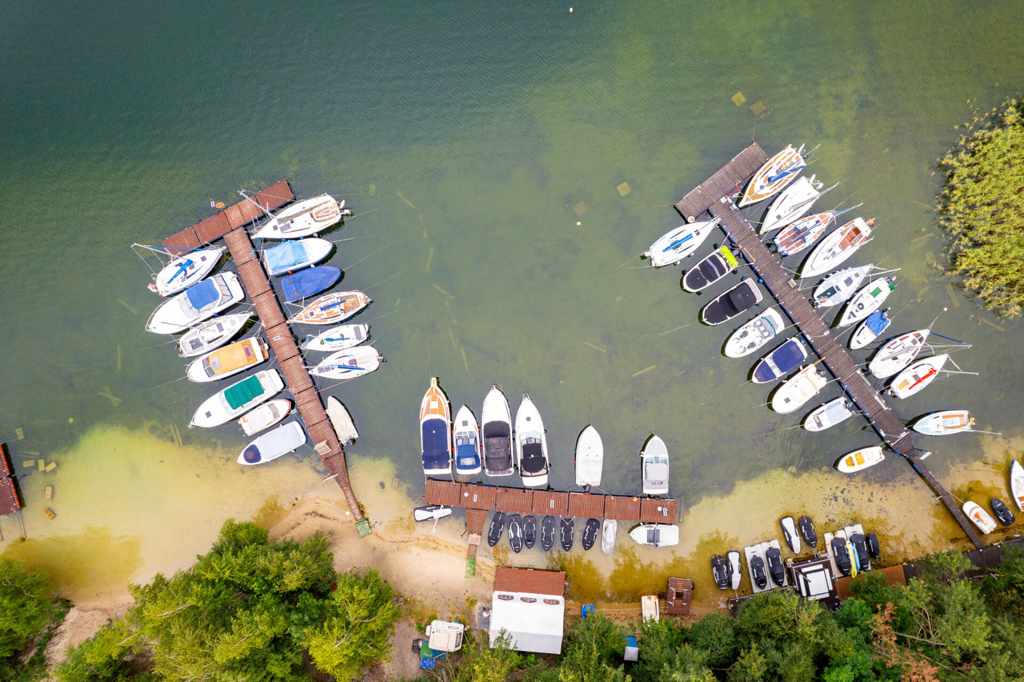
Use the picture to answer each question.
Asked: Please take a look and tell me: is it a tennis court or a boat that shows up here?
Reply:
boat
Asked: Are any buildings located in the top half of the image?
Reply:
No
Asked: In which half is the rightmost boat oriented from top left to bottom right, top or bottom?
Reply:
bottom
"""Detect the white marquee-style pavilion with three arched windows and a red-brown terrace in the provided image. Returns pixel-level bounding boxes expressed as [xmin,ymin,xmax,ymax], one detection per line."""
[489,566,567,656]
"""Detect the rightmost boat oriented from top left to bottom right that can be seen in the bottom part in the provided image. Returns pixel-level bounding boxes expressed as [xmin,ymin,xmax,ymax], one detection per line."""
[951,493,997,535]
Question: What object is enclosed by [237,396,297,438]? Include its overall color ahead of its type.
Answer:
white boat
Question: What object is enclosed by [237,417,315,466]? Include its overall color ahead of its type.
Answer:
white boat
